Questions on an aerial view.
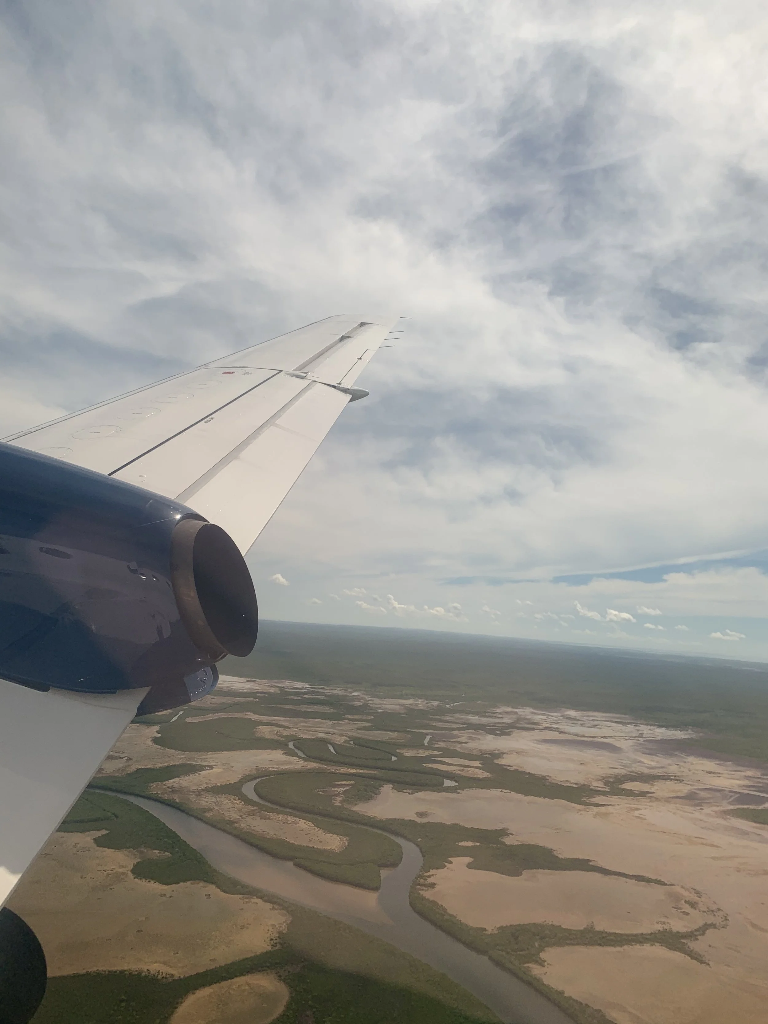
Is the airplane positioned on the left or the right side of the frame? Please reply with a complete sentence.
You can find the airplane on the left side of the picture.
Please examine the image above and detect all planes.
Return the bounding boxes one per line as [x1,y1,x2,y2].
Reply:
[0,314,408,1024]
